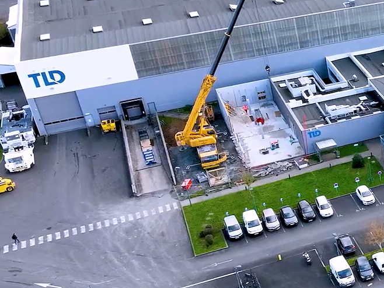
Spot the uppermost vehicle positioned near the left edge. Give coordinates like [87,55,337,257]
[0,100,33,145]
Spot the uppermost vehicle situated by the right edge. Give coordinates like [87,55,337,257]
[357,186,377,206]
